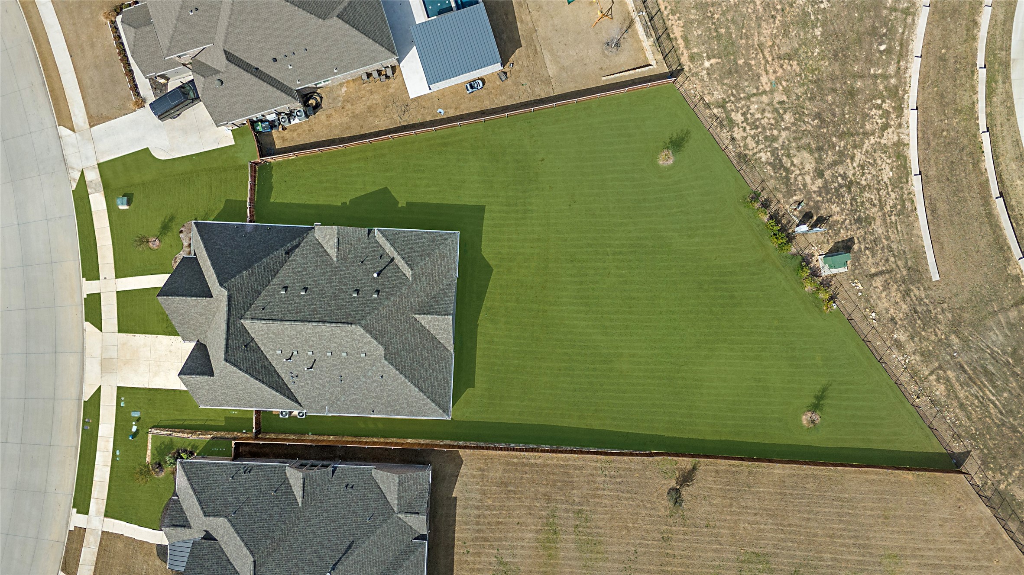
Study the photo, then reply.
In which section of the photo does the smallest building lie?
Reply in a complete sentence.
The smallest building appears toward the top of the photo.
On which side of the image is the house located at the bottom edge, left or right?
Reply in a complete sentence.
The house located at the bottom edge appears in the left half of the scene.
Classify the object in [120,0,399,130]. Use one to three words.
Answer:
house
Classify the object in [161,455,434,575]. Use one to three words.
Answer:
house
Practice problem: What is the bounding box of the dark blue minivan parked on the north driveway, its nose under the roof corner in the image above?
[149,80,205,123]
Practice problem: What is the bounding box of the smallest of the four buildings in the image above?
[410,2,502,88]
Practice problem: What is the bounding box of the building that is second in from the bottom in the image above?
[157,220,460,420]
